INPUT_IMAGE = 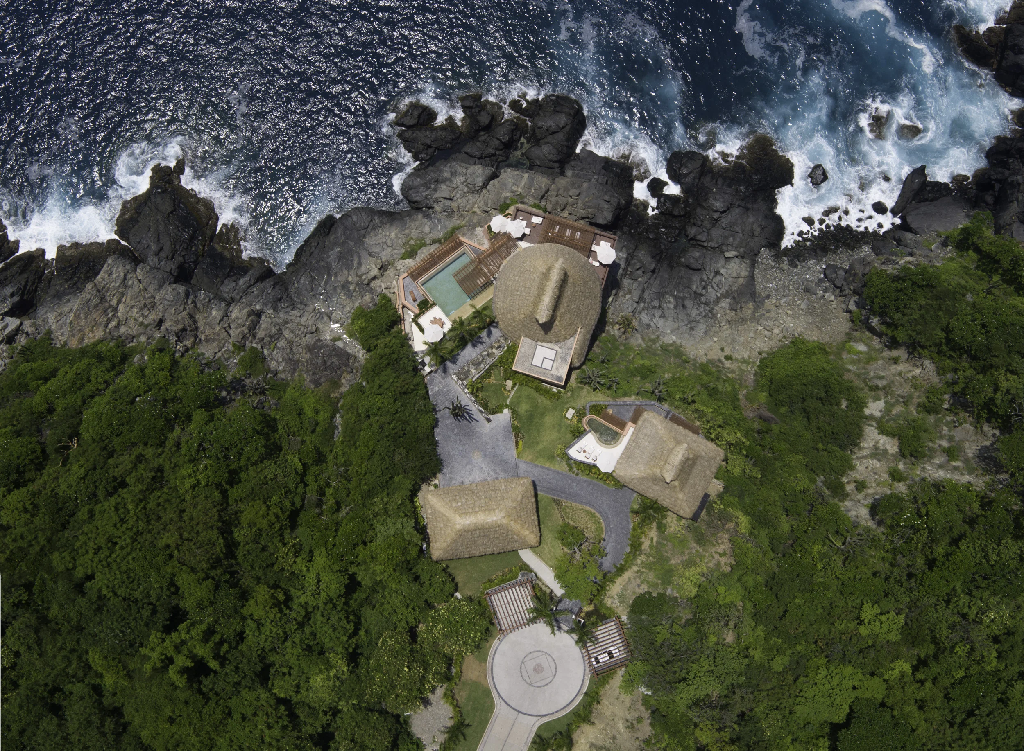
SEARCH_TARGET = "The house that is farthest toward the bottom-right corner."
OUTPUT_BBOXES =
[610,408,726,521]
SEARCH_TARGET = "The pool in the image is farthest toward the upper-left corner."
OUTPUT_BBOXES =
[415,244,494,321]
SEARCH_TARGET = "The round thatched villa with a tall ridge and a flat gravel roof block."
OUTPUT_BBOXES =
[491,242,603,391]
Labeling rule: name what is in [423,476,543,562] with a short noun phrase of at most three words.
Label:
building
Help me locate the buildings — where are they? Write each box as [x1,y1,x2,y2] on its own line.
[610,408,726,521]
[423,476,543,562]
[491,242,603,391]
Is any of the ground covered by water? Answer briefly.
Yes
